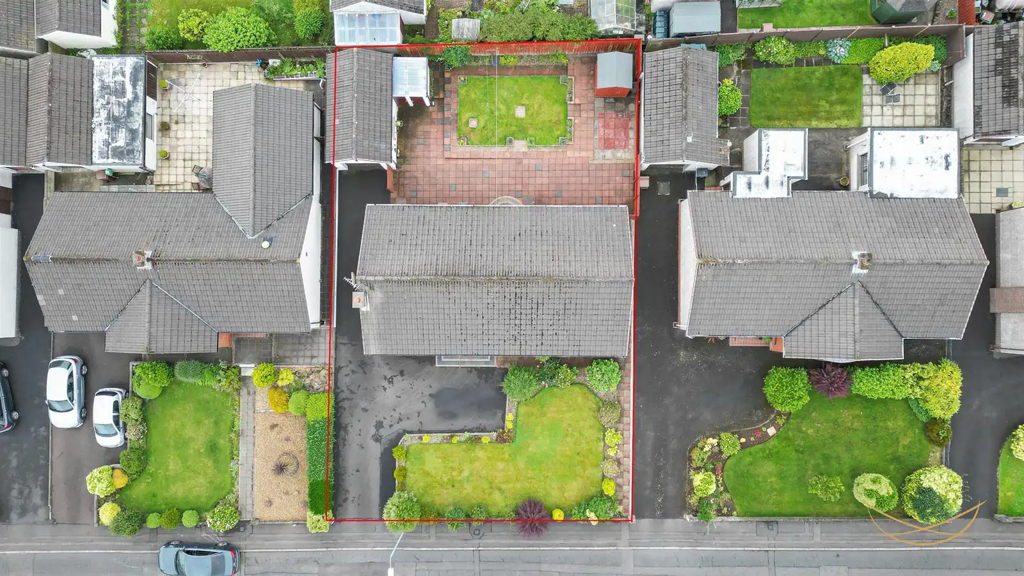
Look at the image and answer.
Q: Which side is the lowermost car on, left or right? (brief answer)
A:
left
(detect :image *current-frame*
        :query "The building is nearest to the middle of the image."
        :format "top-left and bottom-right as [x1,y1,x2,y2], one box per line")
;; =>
[351,203,635,366]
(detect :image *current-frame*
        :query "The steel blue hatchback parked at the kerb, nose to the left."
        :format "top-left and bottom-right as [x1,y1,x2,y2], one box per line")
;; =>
[159,541,239,576]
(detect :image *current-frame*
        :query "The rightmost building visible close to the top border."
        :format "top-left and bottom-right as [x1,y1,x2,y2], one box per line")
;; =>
[954,18,1024,147]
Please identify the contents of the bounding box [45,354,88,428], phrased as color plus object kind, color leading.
white car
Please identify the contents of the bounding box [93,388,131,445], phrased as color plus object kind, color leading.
white car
